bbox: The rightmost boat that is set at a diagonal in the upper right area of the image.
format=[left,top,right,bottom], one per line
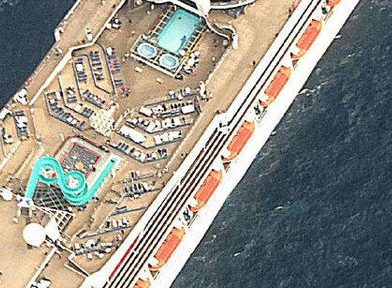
[291,15,325,59]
